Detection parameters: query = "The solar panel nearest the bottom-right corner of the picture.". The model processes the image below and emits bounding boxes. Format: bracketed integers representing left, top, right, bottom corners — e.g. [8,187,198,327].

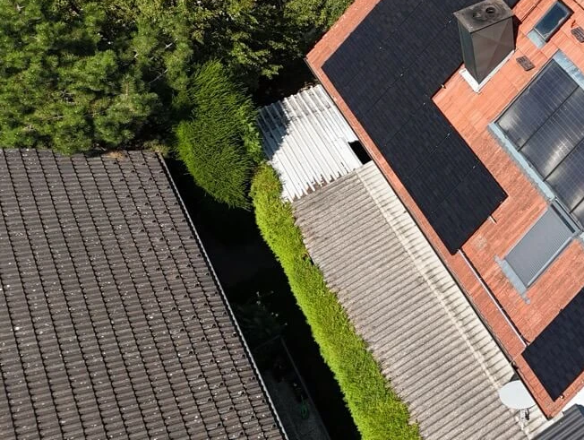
[522,294,584,397]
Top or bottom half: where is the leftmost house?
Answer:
bottom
